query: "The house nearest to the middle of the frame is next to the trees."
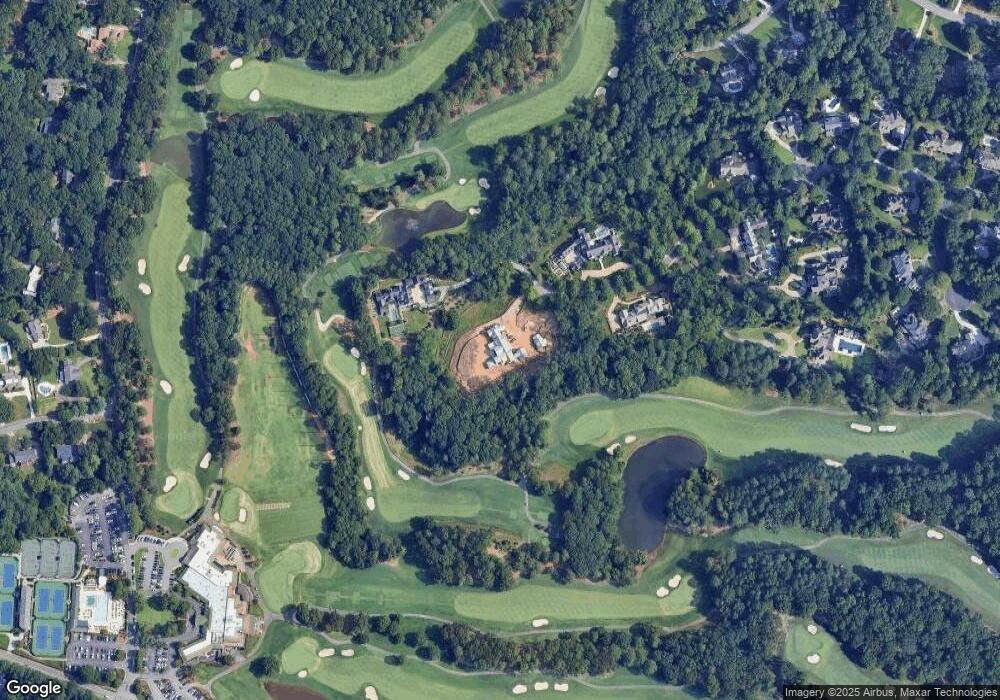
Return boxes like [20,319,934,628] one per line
[484,324,527,371]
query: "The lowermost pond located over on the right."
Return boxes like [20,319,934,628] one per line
[620,434,707,552]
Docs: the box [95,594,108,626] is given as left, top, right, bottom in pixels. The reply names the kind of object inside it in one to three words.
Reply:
swimming pool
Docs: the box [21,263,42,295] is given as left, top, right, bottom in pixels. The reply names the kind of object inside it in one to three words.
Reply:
house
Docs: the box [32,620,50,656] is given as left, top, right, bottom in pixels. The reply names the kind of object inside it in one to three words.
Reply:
tennis court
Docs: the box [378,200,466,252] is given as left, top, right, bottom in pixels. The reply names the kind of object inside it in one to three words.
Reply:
pond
